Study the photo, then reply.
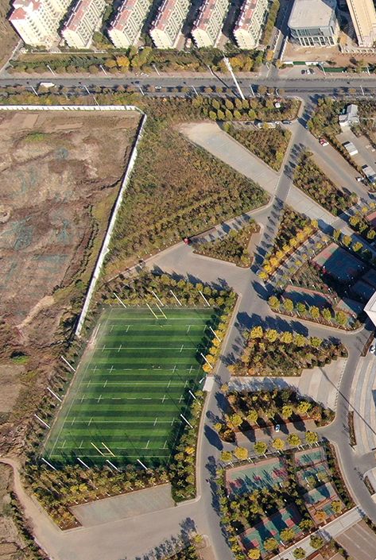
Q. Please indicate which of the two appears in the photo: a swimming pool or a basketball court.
basketball court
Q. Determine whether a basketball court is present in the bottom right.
Yes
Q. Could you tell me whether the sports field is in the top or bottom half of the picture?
bottom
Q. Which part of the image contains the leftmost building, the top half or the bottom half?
top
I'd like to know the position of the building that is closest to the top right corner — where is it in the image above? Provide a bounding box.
[347,0,376,47]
